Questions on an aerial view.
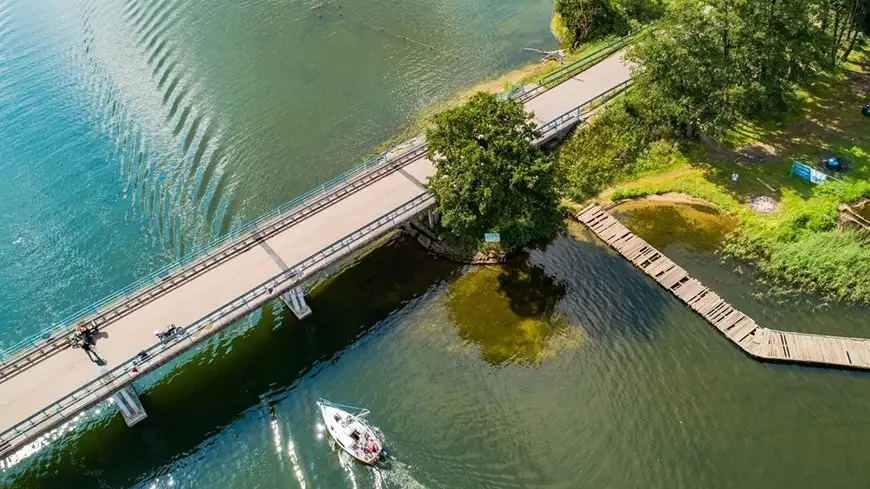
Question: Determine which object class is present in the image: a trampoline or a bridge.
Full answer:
It is a bridge that can be seen here.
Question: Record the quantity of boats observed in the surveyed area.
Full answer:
The photo contains exactly 1 boat.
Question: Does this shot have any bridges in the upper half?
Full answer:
Yes, a bridge appears in the upper half.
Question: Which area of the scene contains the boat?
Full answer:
The boat appears toward the bottom of the photo.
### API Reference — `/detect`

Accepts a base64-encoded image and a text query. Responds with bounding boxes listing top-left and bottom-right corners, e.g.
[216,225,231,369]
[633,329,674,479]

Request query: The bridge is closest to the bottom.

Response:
[0,150,447,477]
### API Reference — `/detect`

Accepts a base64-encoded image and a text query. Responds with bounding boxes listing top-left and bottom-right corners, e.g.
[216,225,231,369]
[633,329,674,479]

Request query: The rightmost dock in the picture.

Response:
[577,202,870,373]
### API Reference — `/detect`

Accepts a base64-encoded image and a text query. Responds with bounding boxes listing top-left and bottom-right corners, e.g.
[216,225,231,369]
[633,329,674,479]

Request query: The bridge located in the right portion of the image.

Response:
[492,82,582,150]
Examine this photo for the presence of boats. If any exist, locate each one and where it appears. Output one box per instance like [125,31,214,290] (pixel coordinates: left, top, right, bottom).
[317,398,387,472]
